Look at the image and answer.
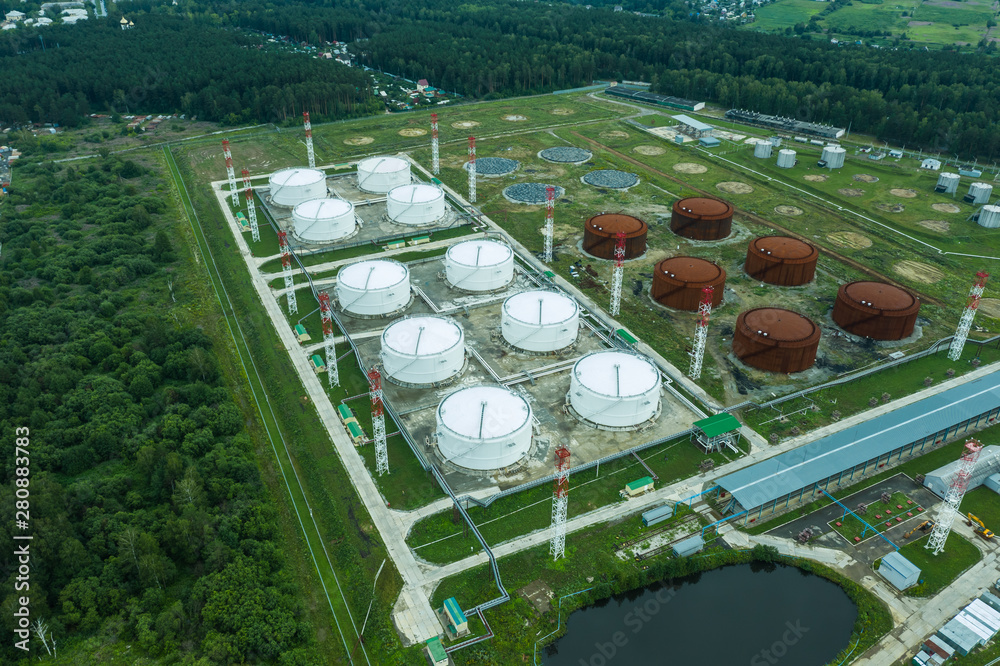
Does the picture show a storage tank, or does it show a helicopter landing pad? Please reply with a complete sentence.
Of the two, only a storage tank appears.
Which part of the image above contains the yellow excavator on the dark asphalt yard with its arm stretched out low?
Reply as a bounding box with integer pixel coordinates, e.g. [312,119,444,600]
[907,519,937,536]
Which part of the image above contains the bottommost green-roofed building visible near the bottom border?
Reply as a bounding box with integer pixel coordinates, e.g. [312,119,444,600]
[421,638,456,666]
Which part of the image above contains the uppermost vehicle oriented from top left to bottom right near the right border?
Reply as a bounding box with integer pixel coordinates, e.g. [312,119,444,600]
[966,515,998,542]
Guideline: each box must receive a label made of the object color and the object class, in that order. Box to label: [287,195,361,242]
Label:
white storage tank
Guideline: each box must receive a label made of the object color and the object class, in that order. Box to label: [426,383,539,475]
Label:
white storage tank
